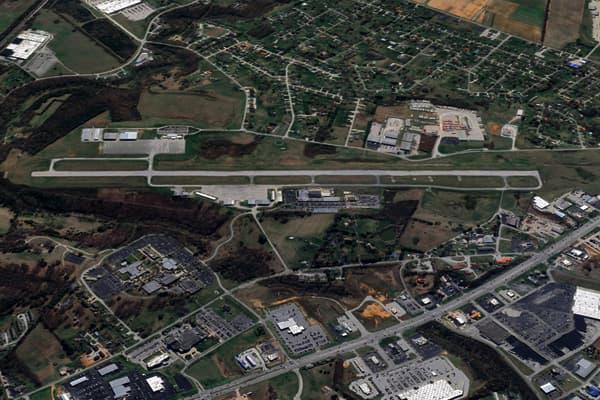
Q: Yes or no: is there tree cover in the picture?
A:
Yes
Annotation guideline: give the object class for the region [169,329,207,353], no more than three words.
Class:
building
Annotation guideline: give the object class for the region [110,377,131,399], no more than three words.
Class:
building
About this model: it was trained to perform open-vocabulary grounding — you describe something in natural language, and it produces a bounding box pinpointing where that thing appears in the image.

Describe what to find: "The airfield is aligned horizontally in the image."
[32,139,543,201]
